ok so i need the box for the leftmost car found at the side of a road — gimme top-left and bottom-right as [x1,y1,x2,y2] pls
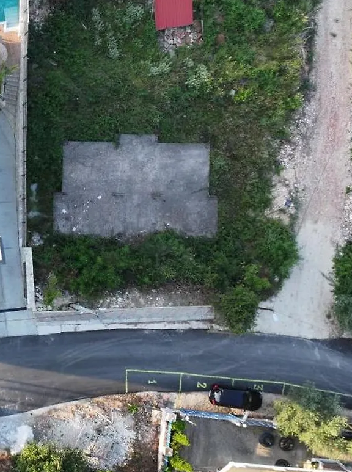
[208,384,261,415]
